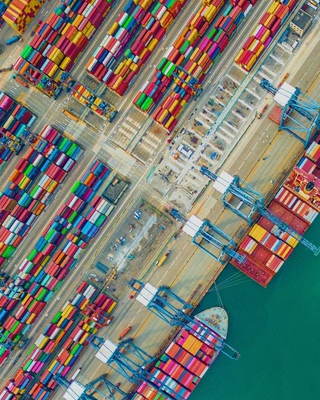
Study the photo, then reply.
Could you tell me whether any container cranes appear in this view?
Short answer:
Yes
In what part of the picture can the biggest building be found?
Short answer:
top right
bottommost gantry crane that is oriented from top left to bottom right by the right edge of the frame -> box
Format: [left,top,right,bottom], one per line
[200,165,320,257]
